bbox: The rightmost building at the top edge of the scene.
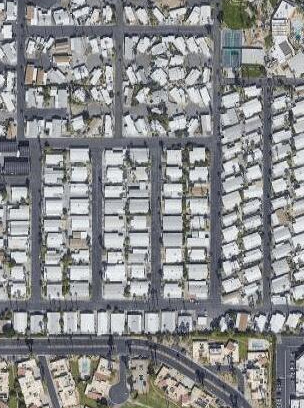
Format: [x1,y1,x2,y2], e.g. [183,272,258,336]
[271,1,304,77]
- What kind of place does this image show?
residential area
